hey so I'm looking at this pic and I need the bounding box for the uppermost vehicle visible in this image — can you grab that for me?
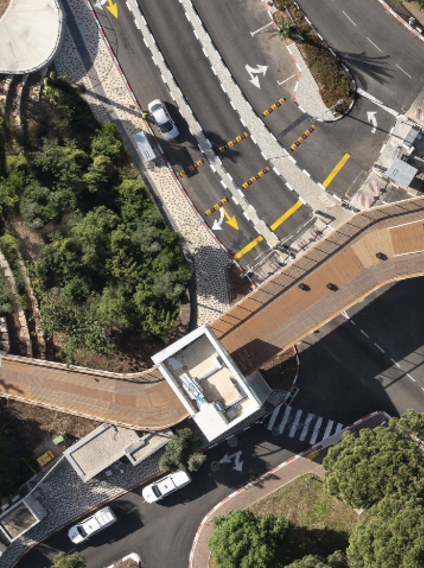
[148,97,181,144]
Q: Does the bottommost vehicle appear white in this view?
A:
Yes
